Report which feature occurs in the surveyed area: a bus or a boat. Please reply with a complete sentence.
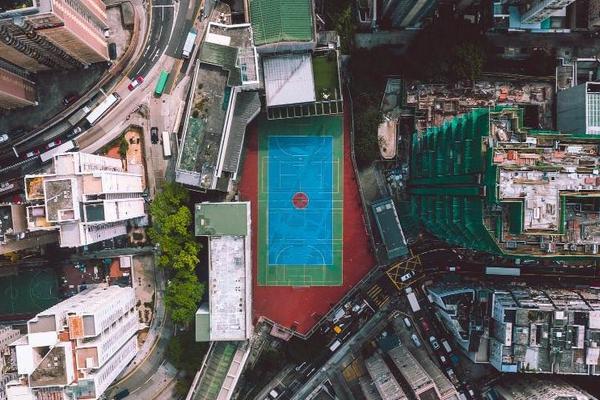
It is a bus that can be seen here.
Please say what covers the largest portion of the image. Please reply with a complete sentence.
What you mostly see from above here is buildings.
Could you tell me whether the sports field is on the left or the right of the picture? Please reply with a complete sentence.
The sports field appears in the left half of the scene.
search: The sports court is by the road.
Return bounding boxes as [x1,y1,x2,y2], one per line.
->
[238,90,376,338]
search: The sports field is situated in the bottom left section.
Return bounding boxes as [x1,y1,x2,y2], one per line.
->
[0,261,60,329]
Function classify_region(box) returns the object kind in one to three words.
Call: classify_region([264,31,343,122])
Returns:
building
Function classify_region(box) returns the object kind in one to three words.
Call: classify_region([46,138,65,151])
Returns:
vehicle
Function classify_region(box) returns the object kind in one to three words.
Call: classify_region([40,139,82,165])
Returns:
bus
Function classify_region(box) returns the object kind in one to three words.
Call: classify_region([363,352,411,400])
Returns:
building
